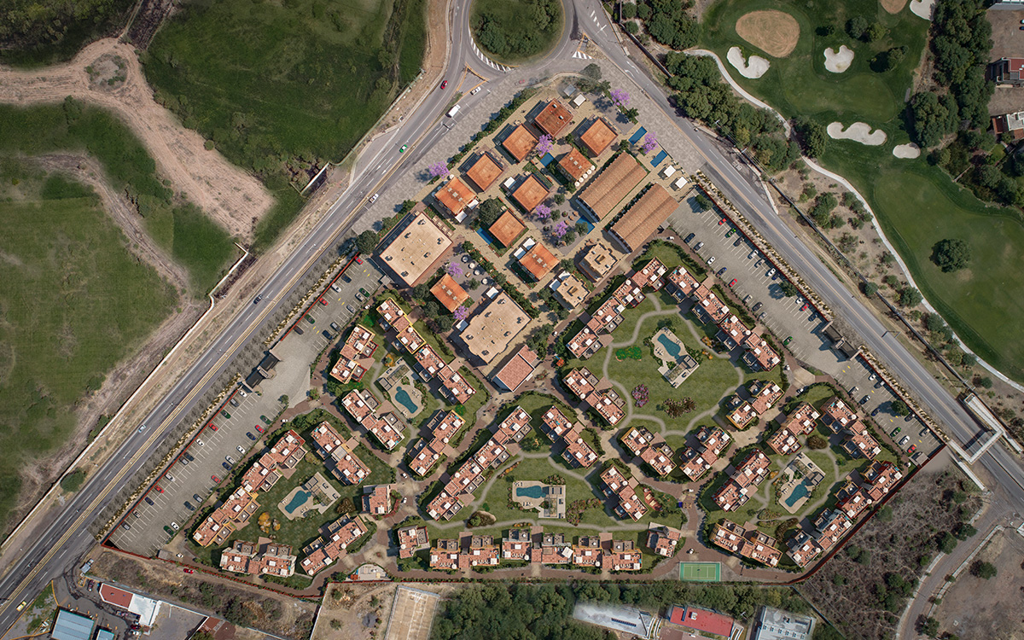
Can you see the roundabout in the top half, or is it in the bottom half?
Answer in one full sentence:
It is in the top half that the roundabout appears.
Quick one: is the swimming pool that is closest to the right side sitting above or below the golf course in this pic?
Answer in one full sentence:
It's below the golf course that the swimming pool that is closest to the right side shows up.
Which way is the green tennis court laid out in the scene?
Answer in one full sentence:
What the image shows is the green tennis court lying from left to right.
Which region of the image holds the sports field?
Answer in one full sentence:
Look in the bottom portion of the view to spot the sports field.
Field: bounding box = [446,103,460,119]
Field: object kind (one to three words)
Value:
vehicle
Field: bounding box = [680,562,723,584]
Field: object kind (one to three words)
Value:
tennis court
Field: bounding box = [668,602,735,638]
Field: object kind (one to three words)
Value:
building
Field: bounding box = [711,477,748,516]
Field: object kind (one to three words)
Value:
house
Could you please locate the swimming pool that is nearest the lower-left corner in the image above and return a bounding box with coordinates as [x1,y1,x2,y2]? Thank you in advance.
[274,470,333,525]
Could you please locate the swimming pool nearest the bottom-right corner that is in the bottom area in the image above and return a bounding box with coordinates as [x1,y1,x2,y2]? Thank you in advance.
[776,452,824,516]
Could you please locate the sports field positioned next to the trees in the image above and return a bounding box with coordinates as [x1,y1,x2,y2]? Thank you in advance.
[384,586,437,640]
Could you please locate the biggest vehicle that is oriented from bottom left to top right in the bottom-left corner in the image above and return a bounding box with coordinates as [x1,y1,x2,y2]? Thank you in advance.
[79,559,94,575]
